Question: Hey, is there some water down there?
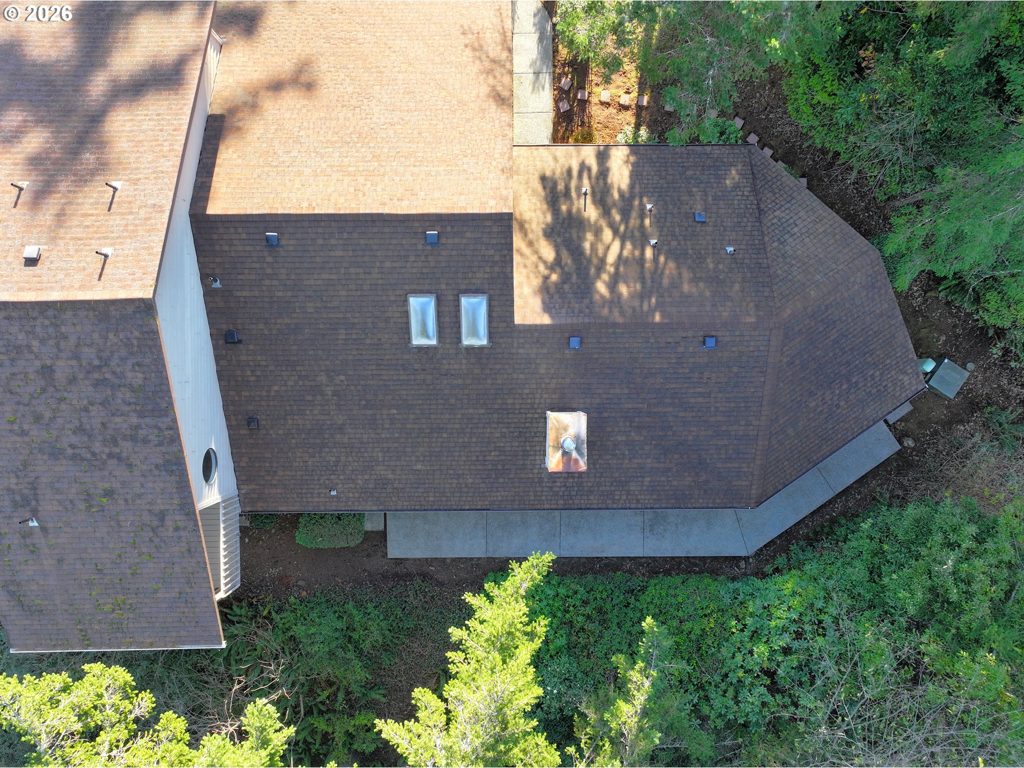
No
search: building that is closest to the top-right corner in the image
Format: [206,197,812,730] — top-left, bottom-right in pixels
[190,0,931,516]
